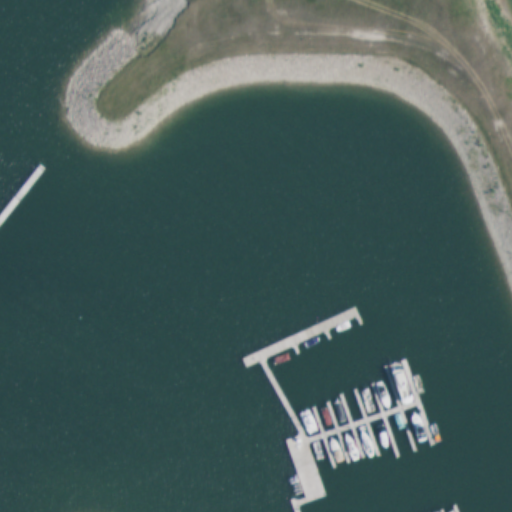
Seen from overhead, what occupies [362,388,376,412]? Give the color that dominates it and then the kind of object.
white boat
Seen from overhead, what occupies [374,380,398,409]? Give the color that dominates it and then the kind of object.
white boat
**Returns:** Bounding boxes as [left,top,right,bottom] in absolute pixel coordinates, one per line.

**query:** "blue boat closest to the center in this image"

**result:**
[304,334,321,346]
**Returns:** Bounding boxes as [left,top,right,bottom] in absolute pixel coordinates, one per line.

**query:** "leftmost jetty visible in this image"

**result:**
[0,164,46,226]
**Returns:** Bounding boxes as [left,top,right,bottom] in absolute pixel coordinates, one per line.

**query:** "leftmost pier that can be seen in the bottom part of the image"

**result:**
[243,306,436,512]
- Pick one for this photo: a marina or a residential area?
marina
